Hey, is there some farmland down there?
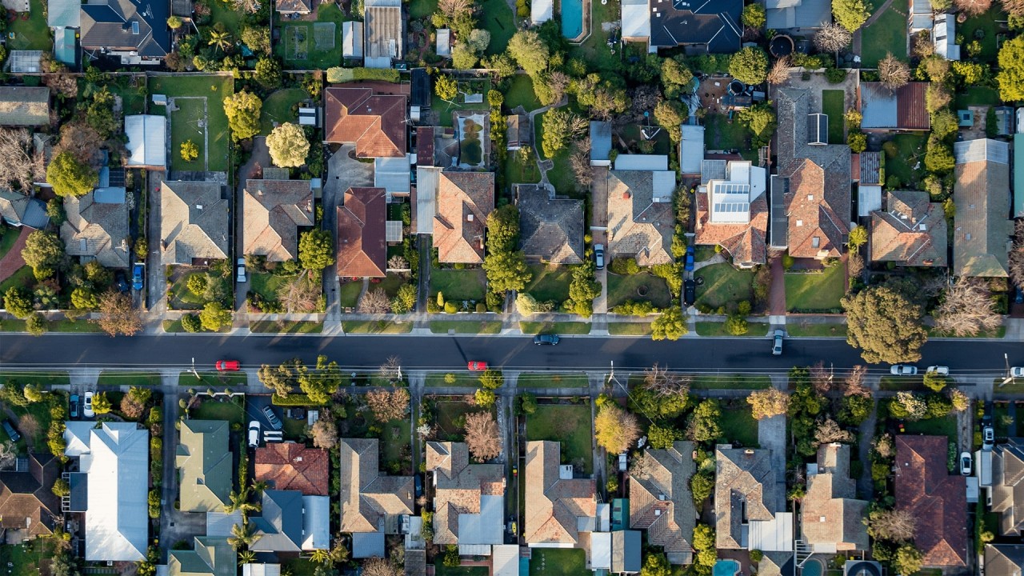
No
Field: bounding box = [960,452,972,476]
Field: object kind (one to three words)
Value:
vehicle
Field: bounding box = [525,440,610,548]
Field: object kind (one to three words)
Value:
house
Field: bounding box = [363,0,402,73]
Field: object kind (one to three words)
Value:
shed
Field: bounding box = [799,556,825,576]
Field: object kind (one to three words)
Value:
swimming pool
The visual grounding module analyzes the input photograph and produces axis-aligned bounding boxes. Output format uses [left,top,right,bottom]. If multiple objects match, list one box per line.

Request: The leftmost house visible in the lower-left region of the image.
[0,453,63,545]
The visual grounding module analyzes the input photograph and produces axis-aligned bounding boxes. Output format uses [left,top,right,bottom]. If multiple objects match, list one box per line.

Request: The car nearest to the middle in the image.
[533,334,559,346]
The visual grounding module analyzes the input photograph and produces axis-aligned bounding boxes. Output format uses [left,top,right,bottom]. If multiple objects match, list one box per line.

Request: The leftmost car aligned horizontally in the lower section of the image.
[216,359,241,371]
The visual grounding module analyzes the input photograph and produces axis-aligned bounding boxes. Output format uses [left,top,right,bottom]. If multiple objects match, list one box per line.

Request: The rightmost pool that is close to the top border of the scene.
[558,0,592,42]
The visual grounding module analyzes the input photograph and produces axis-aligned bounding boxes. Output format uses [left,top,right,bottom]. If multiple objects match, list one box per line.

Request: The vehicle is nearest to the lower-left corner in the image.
[1,417,22,443]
